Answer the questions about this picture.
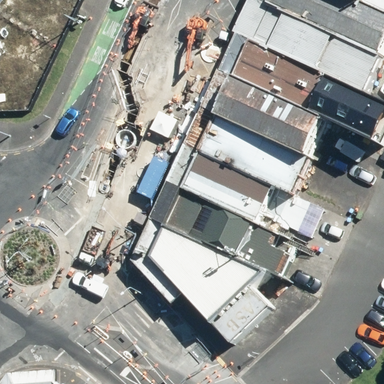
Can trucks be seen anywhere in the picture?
Yes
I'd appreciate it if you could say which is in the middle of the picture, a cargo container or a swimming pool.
cargo container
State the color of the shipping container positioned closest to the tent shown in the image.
blue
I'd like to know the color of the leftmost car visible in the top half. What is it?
blue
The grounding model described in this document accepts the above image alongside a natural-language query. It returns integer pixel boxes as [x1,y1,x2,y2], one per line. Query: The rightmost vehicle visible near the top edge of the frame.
[184,12,212,70]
